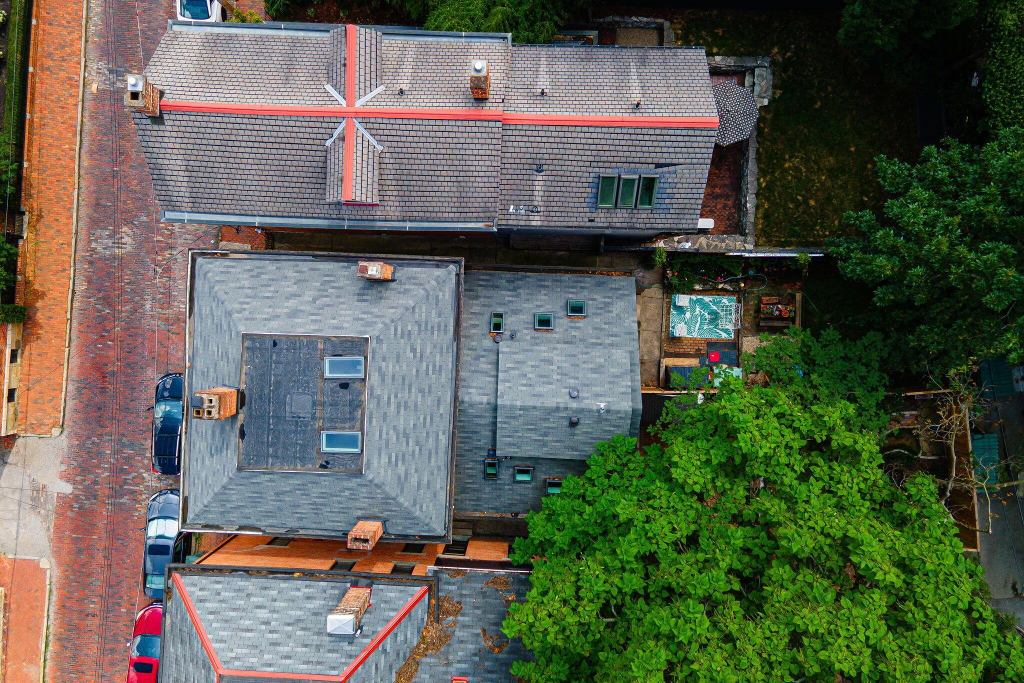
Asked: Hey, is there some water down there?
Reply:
No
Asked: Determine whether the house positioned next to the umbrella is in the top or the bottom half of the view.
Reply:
top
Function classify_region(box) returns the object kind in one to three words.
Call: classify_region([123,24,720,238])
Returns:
house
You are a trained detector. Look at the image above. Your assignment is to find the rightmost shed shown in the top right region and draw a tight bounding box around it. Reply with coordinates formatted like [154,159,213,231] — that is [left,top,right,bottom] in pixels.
[890,88,947,153]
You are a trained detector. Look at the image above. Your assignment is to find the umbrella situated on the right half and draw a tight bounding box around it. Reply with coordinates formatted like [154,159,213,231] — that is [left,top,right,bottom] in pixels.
[712,83,756,148]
